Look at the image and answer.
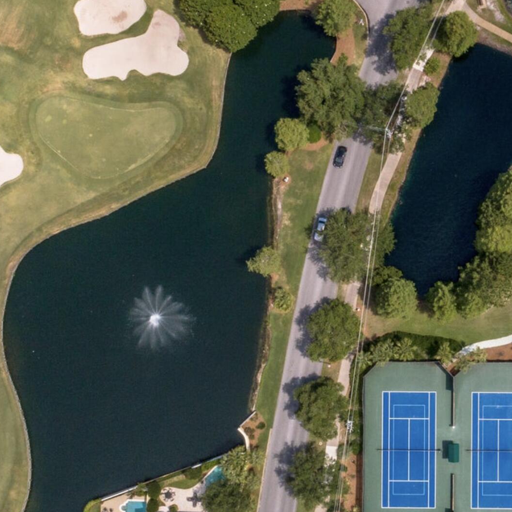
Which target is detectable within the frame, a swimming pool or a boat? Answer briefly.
swimming pool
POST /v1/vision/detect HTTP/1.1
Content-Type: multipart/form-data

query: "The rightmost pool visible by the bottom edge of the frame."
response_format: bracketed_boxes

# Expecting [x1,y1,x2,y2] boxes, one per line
[202,464,228,489]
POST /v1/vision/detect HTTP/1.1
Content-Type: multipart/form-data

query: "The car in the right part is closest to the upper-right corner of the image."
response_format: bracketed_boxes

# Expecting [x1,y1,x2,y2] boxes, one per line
[333,145,346,167]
